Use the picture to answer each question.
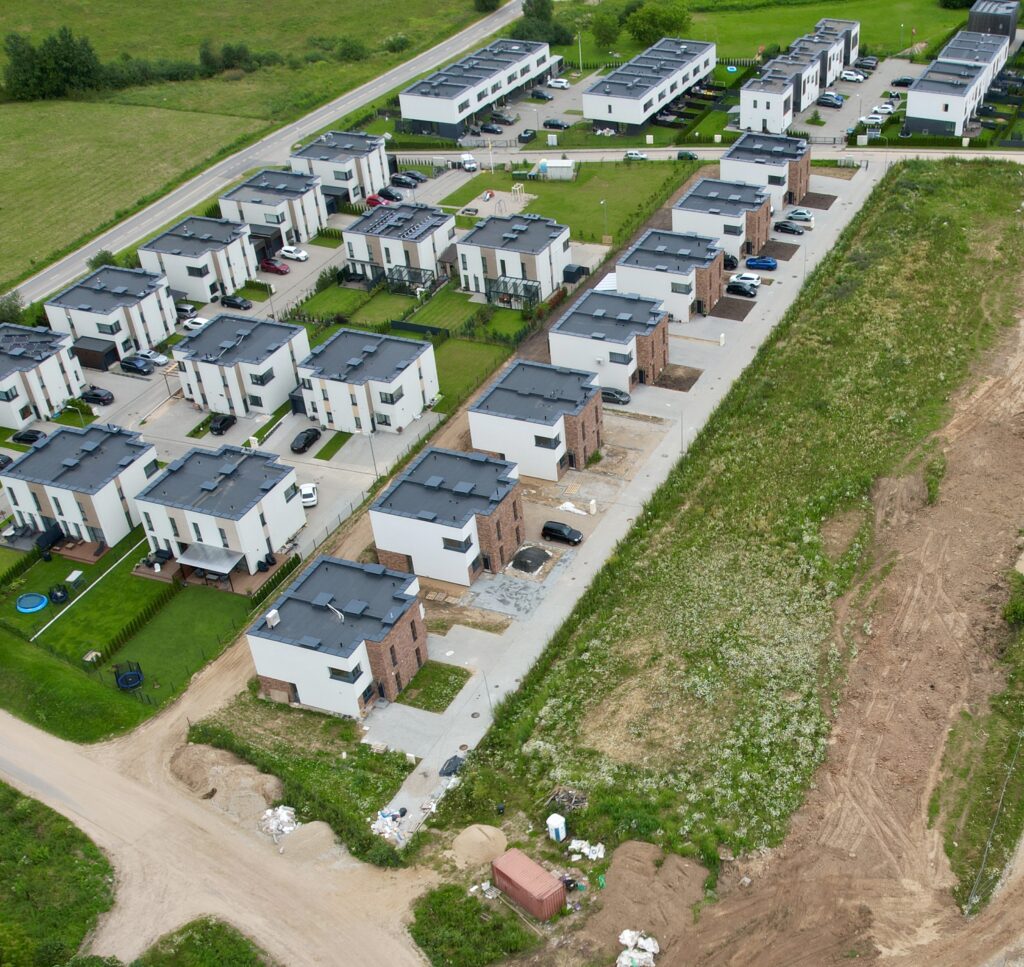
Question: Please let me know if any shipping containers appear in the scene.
Yes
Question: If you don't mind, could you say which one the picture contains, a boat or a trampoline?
trampoline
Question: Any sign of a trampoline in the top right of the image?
No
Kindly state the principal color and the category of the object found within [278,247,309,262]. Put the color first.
white car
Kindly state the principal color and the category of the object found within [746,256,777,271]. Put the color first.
blue car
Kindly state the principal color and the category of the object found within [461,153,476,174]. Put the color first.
white vehicle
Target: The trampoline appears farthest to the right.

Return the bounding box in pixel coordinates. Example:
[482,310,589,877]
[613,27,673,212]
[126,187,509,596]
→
[108,656,143,693]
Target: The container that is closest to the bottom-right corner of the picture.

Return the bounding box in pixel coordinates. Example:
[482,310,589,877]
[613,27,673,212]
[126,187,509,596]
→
[492,846,566,922]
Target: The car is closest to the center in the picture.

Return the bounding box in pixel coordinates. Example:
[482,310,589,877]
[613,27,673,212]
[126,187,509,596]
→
[540,520,583,546]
